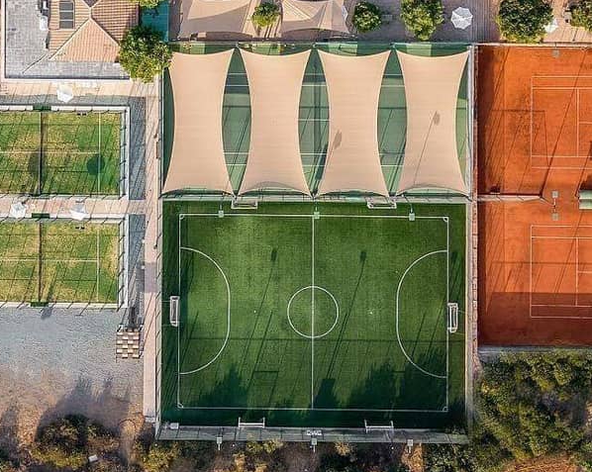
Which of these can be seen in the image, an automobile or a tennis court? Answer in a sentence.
This aerial view contains a tennis court.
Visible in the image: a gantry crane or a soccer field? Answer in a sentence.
There is a soccer field in the scene.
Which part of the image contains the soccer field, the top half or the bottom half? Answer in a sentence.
Seen from above, the soccer field lies in the bottom half of the view.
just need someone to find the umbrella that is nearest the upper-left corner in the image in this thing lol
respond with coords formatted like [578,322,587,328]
[58,85,74,101]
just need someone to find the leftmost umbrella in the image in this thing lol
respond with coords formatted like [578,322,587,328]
[11,200,27,216]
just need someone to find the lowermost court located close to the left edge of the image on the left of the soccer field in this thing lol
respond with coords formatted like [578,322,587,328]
[0,215,125,314]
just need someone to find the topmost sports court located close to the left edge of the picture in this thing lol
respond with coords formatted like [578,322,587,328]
[0,104,127,203]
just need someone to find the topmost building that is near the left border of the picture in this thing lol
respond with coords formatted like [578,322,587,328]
[2,0,145,80]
